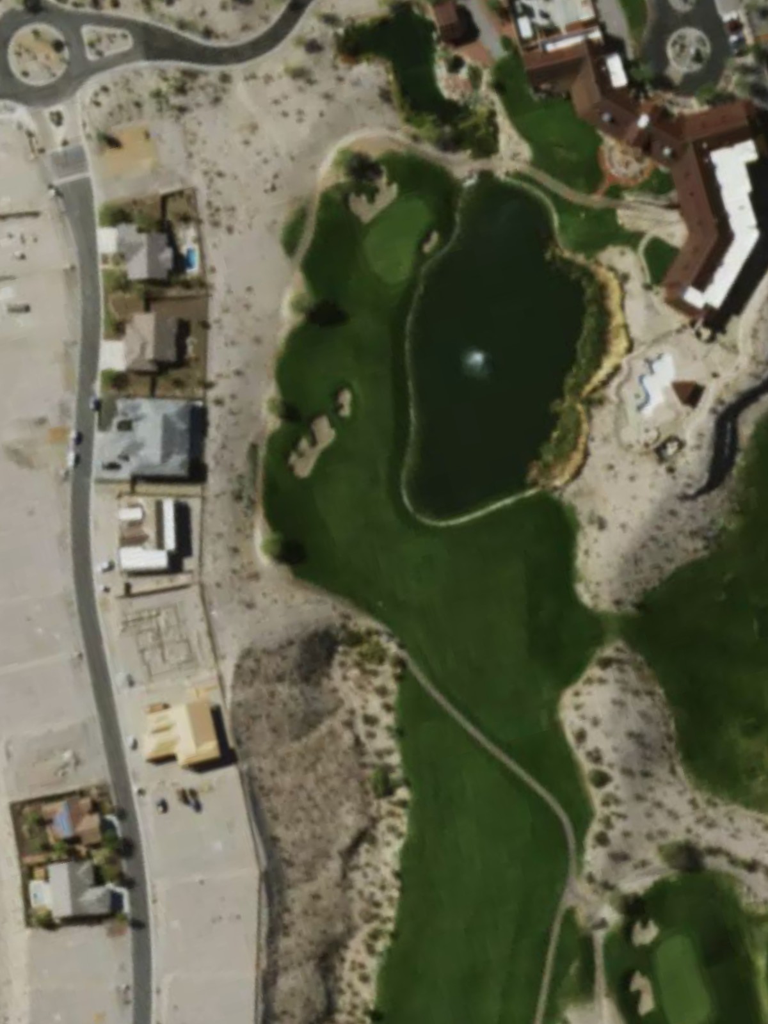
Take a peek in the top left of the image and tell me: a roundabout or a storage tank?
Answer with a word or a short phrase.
roundabout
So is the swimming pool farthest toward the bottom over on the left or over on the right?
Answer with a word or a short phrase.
left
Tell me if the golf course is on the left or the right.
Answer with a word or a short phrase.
right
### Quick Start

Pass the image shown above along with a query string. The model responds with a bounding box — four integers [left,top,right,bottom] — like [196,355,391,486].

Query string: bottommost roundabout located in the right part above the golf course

[666,26,712,84]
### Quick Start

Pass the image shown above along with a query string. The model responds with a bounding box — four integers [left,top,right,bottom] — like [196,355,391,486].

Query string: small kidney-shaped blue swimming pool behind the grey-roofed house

[178,242,200,273]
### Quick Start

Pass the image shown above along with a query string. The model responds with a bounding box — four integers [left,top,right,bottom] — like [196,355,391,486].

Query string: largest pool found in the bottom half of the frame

[29,881,52,907]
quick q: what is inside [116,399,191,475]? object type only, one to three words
house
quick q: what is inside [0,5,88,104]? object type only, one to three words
roundabout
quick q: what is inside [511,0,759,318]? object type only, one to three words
building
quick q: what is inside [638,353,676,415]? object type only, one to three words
swimming pool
